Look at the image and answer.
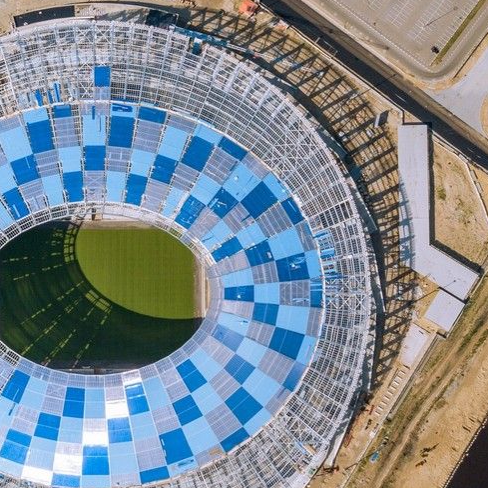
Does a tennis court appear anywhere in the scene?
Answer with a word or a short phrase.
No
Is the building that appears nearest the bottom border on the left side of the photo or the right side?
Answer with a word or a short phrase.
right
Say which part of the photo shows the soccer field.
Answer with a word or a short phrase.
left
